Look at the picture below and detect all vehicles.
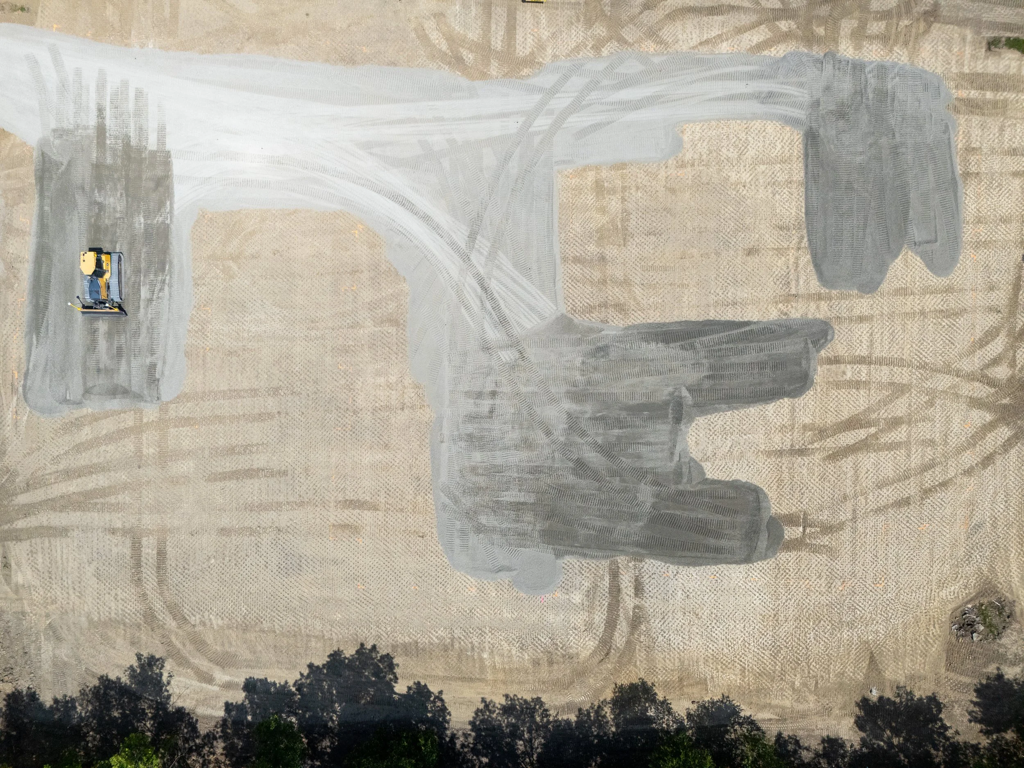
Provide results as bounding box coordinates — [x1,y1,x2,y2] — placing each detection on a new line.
[68,251,126,319]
